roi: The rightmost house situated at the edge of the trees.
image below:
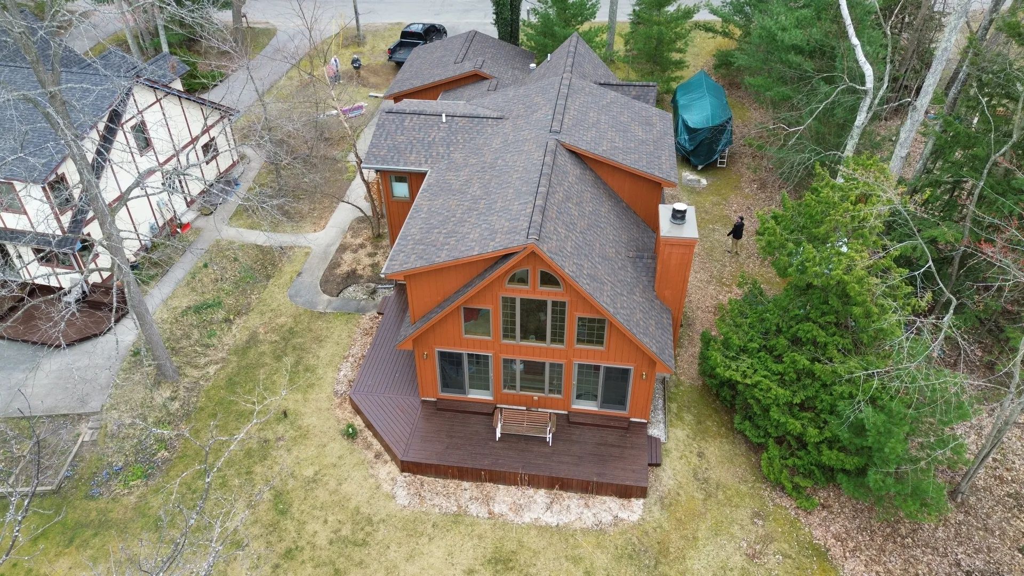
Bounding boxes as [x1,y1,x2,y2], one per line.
[360,23,696,422]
